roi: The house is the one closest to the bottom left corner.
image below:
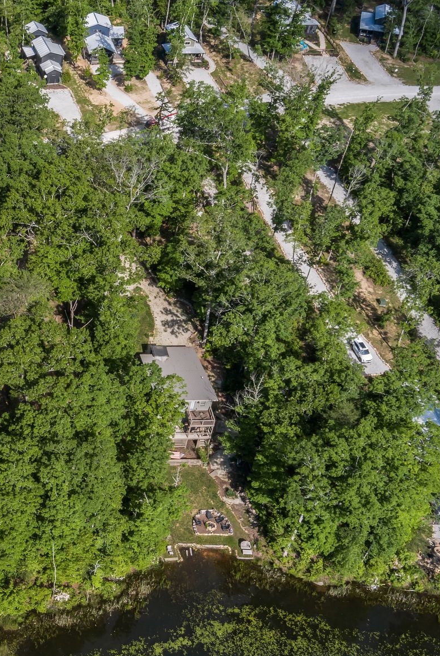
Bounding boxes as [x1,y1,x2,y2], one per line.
[137,343,217,422]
